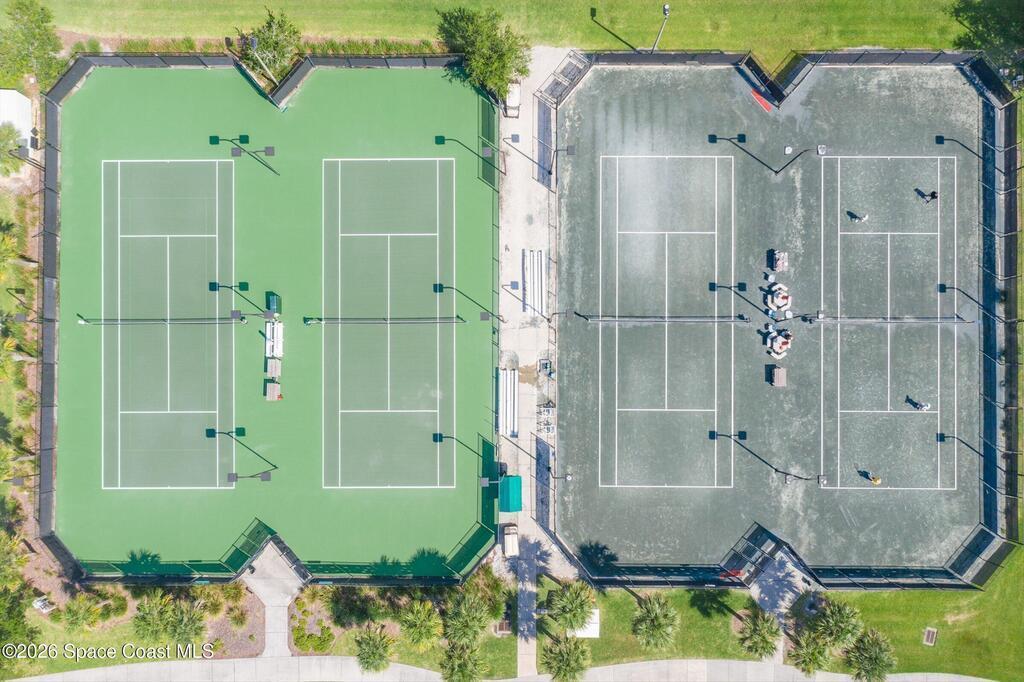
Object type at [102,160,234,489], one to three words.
tennis court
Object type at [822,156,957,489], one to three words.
tennis court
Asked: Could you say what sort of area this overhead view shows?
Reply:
sports ground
